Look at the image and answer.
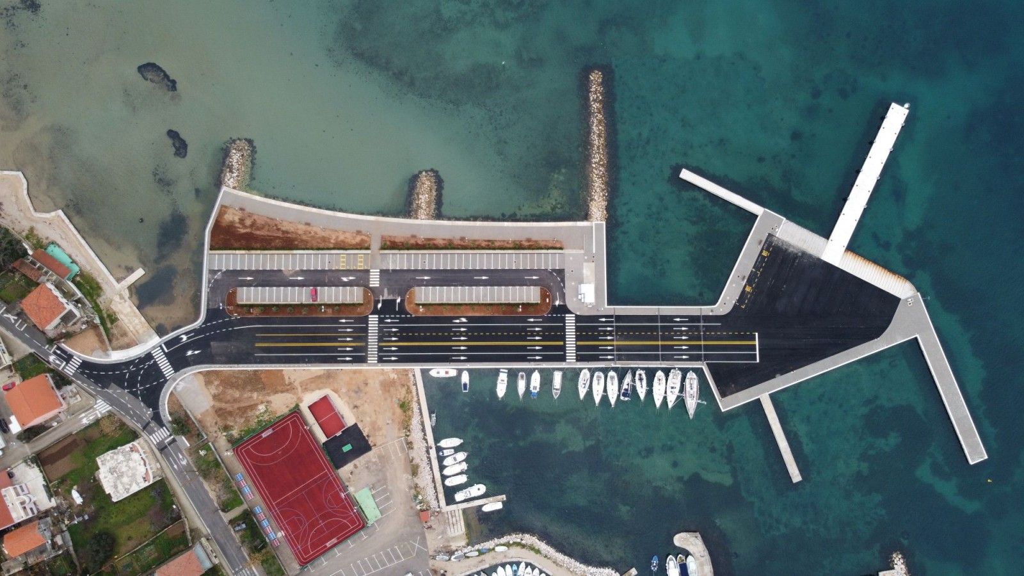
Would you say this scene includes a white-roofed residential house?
Yes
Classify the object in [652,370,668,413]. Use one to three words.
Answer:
boat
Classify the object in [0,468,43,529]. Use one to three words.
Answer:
house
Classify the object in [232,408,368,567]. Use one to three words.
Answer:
sports court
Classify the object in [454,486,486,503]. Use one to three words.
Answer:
boat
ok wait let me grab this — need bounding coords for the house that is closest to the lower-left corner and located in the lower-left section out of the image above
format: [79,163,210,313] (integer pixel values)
[1,515,56,576]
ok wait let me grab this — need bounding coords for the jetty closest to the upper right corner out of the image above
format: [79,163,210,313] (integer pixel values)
[821,102,909,266]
